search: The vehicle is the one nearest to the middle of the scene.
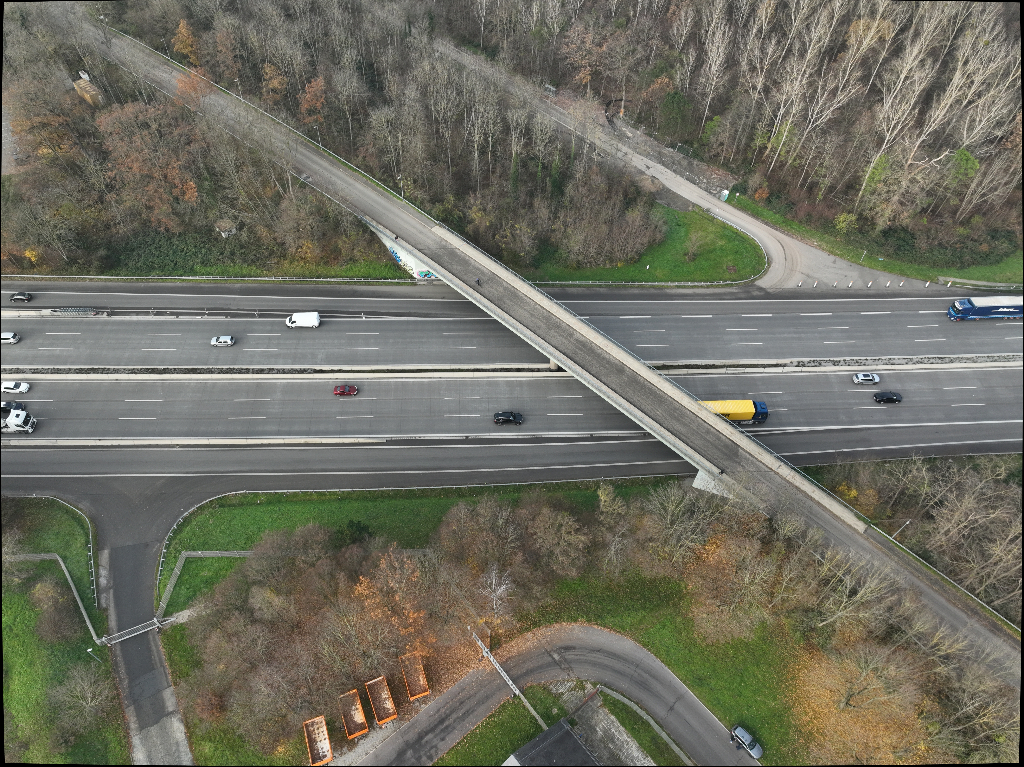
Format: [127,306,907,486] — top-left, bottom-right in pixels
[493,412,524,426]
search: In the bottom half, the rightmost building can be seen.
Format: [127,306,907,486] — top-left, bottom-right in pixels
[511,716,598,767]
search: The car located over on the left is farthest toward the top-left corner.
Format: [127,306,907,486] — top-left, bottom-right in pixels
[6,292,33,304]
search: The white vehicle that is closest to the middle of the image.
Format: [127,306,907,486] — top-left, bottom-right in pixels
[284,311,320,328]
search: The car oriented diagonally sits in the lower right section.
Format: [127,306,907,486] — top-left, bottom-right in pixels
[727,720,765,760]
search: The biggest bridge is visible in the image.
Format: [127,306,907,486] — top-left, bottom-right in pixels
[357,196,877,572]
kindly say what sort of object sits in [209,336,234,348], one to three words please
vehicle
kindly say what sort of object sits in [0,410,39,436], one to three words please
truck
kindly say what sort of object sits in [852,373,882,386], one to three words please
vehicle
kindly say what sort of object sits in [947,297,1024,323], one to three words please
truck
